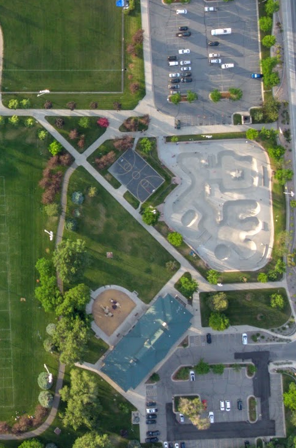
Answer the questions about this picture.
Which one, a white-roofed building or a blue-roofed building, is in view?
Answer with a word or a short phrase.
blue-roofed building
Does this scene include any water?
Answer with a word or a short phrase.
No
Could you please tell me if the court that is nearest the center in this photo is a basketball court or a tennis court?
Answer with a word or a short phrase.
basketball court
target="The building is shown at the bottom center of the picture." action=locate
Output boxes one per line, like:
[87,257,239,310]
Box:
[101,294,193,392]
